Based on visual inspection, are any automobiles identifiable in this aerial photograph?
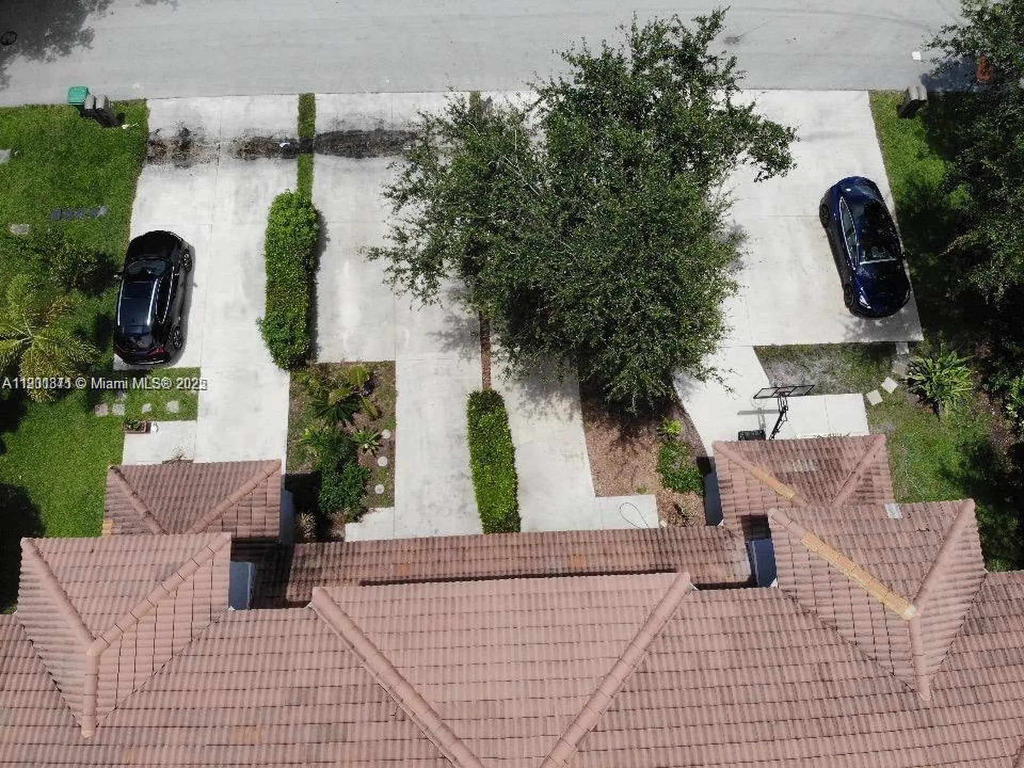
Yes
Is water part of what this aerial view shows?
No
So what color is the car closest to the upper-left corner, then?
black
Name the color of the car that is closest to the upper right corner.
black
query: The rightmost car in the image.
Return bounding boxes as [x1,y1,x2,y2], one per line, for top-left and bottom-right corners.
[819,173,920,322]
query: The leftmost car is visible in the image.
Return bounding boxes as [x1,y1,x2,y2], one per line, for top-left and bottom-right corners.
[108,231,193,367]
